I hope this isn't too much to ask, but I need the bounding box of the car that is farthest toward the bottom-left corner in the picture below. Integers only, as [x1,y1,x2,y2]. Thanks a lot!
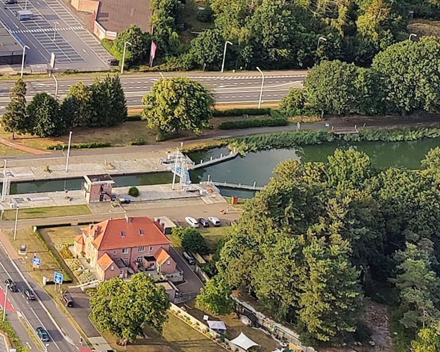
[35,327,50,339]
